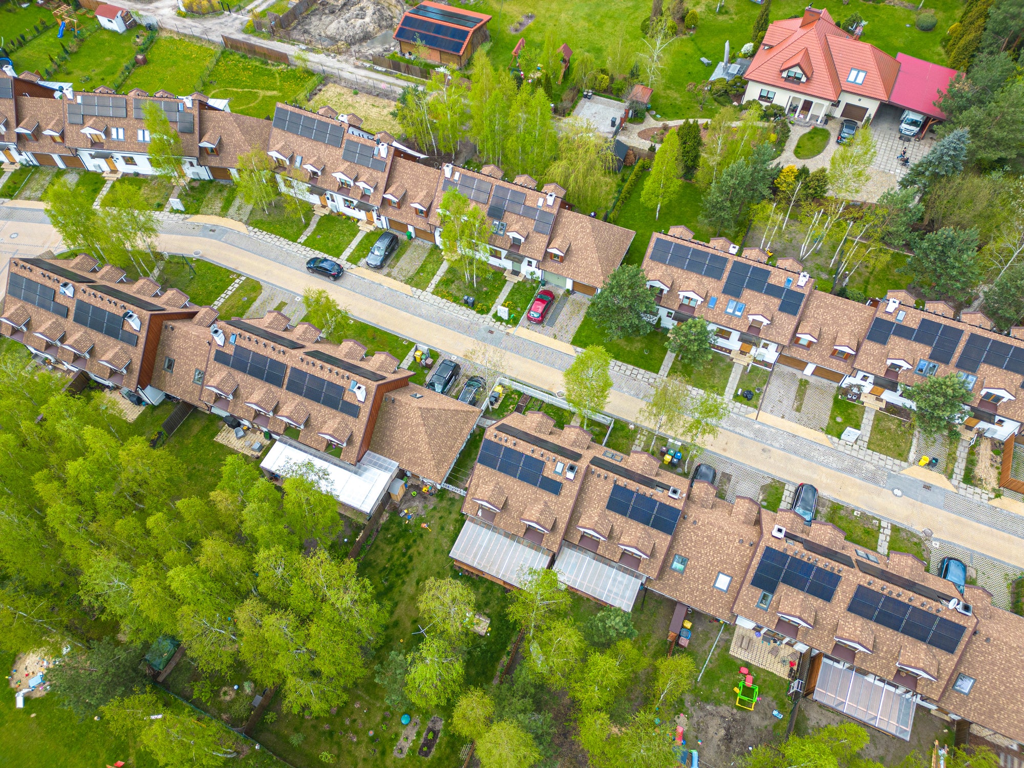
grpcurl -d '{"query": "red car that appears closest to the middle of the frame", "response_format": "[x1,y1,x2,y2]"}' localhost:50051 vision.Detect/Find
[525,290,554,322]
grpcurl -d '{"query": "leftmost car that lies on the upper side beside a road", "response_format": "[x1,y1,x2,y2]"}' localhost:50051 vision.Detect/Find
[306,260,344,283]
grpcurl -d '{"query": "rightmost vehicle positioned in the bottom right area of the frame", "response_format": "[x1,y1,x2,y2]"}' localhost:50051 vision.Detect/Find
[939,548,972,593]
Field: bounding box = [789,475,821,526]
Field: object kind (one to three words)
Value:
car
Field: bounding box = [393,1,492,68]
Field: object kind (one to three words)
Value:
barn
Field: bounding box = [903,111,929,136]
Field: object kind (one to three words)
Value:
truck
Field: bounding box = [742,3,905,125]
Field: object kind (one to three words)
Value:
house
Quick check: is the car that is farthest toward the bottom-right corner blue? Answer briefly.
Yes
